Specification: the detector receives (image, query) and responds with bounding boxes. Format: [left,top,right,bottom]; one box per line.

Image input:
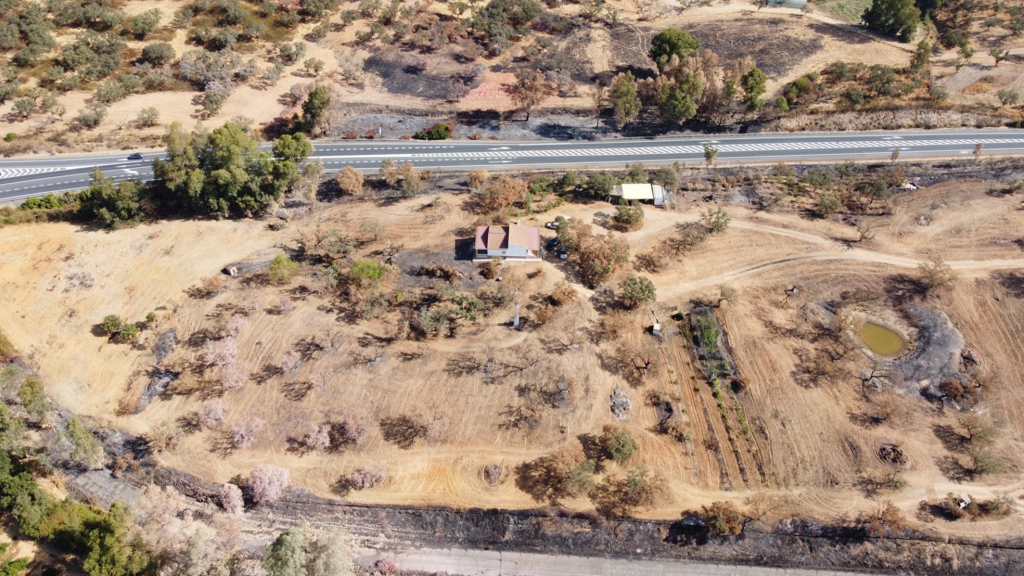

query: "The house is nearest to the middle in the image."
[474,217,542,260]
